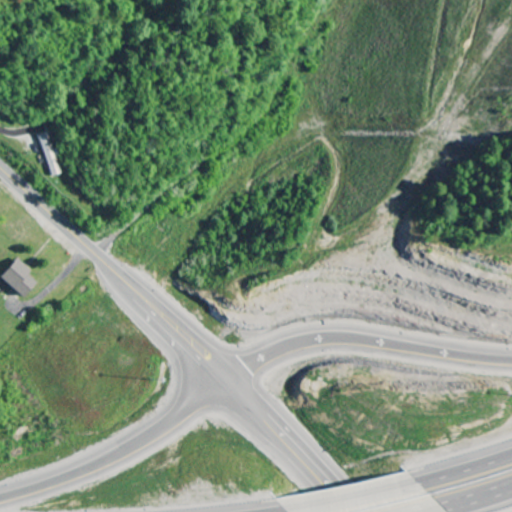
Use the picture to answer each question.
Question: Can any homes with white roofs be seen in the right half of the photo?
No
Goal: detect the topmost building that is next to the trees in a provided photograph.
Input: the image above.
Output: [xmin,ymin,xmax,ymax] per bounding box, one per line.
[36,134,62,176]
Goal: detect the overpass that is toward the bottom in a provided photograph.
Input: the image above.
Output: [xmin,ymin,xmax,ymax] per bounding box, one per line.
[270,466,442,512]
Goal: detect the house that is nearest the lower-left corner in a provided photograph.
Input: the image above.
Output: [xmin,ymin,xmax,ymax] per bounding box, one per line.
[2,259,38,298]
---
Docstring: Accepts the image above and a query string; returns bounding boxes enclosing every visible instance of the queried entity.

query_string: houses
[36,134,62,176]
[2,259,38,298]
